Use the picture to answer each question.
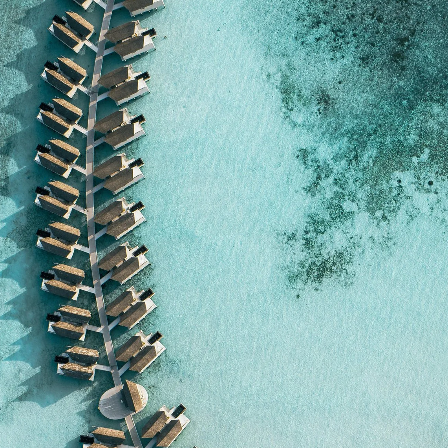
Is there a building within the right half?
No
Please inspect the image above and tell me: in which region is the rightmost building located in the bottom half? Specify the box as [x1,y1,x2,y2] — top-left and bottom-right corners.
[143,406,194,448]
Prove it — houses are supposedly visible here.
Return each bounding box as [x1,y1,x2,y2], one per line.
[38,55,91,104]
[91,152,147,198]
[84,426,127,448]
[93,196,150,242]
[34,220,84,264]
[98,242,153,287]
[93,108,150,153]
[35,96,86,144]
[122,0,168,22]
[47,304,93,344]
[143,406,194,448]
[103,20,158,66]
[46,10,98,59]
[105,286,161,332]
[97,63,153,109]
[56,345,102,382]
[38,262,87,304]
[115,331,169,375]
[32,178,83,224]
[32,137,84,182]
